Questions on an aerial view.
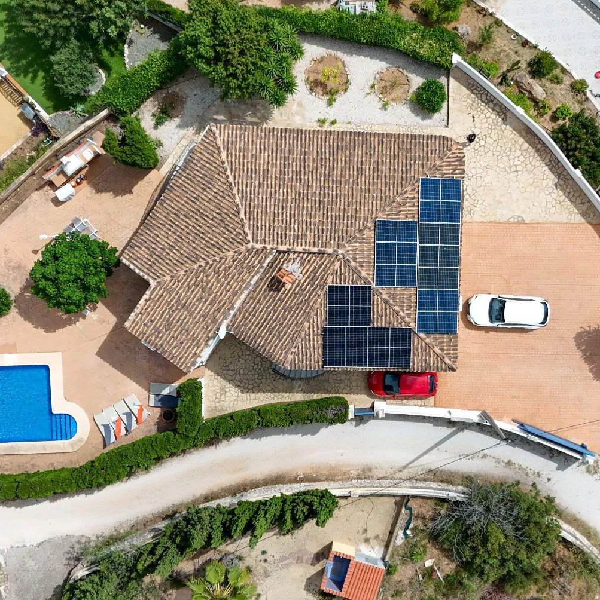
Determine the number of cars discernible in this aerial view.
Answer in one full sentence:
The number of cars here is 2.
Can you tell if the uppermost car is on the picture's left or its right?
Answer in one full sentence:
You can find the uppermost car on the right side of the picture.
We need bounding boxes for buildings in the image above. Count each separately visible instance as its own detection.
[315,532,386,600]
[119,121,465,377]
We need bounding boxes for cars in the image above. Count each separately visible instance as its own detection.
[367,370,436,404]
[464,292,547,331]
